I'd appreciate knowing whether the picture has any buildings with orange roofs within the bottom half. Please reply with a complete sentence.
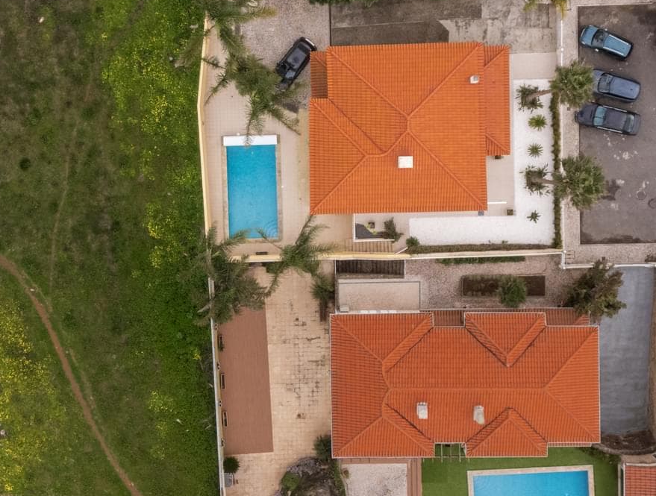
Yes, looking within the bottom half, one can make out a building with an orange roof.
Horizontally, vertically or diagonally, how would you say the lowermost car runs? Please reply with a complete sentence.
What the image shows is the lowermost car lying horizontally.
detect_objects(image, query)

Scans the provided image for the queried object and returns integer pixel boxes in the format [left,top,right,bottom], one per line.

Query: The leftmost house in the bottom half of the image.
[329,309,602,460]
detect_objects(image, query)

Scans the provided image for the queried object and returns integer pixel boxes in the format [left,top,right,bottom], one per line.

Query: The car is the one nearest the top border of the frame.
[578,26,635,60]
